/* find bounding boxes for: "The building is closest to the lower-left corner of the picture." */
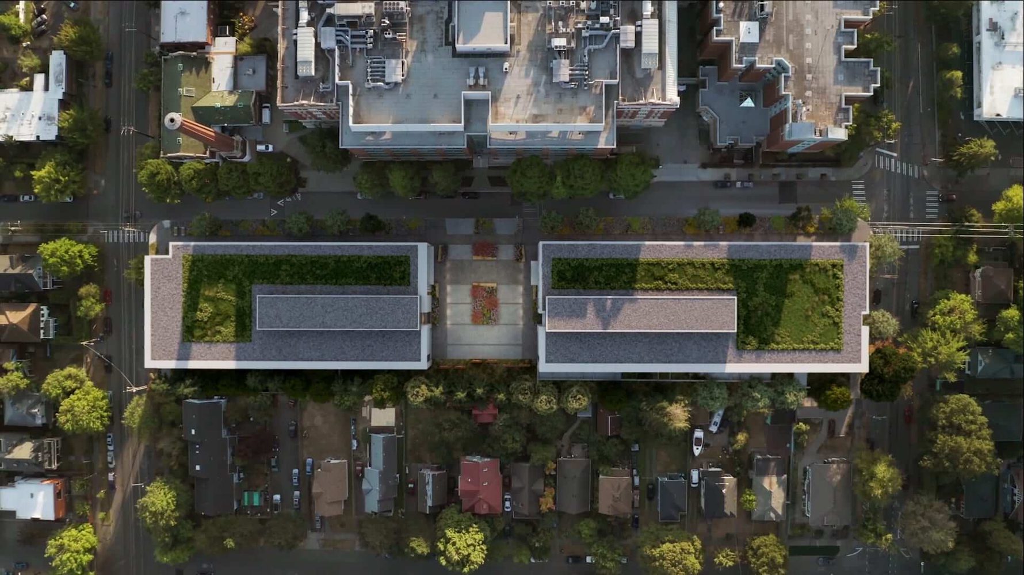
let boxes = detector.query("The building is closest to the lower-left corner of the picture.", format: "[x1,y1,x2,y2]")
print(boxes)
[0,473,74,520]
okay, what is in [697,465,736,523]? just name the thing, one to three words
house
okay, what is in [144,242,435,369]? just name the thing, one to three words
building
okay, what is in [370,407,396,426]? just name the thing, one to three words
building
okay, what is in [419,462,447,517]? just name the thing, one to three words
house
